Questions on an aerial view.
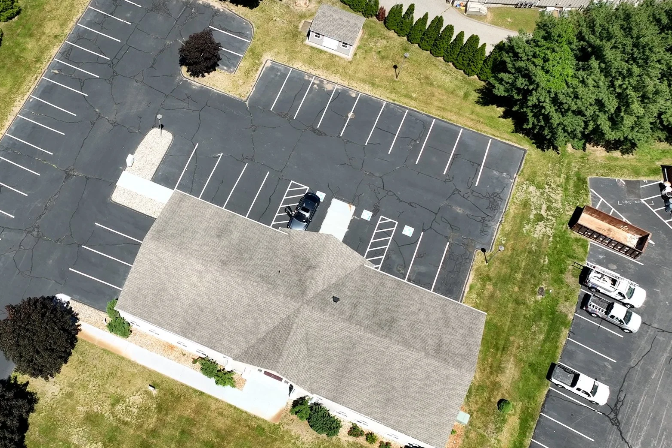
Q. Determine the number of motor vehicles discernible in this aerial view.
4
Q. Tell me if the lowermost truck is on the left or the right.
right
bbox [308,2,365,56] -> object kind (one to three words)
shed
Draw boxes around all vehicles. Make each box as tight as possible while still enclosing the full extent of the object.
[583,265,645,310]
[583,293,644,334]
[285,191,320,231]
[548,363,610,406]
